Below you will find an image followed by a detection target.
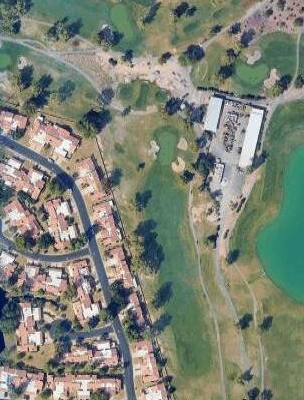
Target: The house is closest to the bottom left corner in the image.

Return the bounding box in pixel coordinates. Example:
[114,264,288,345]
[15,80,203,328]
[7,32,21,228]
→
[0,364,46,398]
